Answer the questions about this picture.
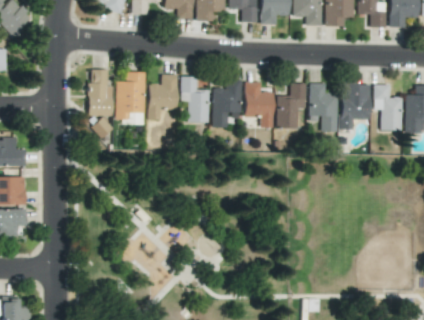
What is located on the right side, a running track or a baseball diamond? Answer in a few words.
baseball diamond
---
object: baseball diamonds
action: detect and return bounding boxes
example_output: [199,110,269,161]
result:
[358,230,412,290]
